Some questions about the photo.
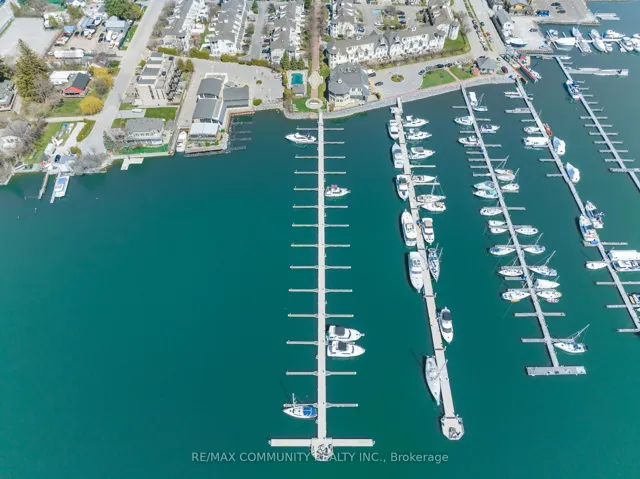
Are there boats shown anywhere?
Yes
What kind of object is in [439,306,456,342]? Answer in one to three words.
boat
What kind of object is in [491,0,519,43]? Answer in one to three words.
building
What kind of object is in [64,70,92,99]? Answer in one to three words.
house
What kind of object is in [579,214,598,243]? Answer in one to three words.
boat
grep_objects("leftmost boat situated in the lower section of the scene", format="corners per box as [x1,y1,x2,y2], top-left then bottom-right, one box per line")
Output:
[284,396,317,418]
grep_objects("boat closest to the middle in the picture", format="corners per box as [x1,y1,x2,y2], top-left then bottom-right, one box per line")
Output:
[324,184,350,196]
